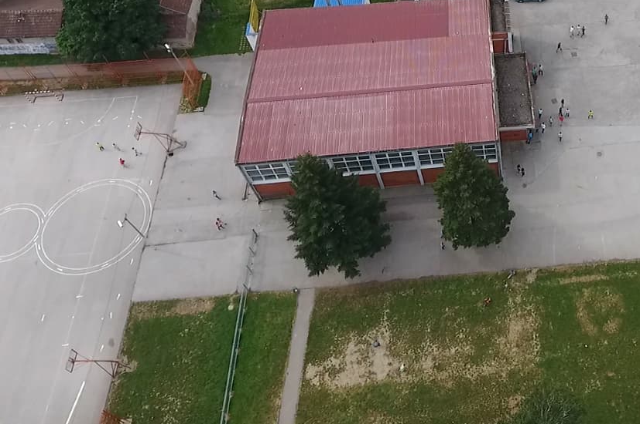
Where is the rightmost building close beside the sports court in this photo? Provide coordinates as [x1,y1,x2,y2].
[230,0,533,209]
